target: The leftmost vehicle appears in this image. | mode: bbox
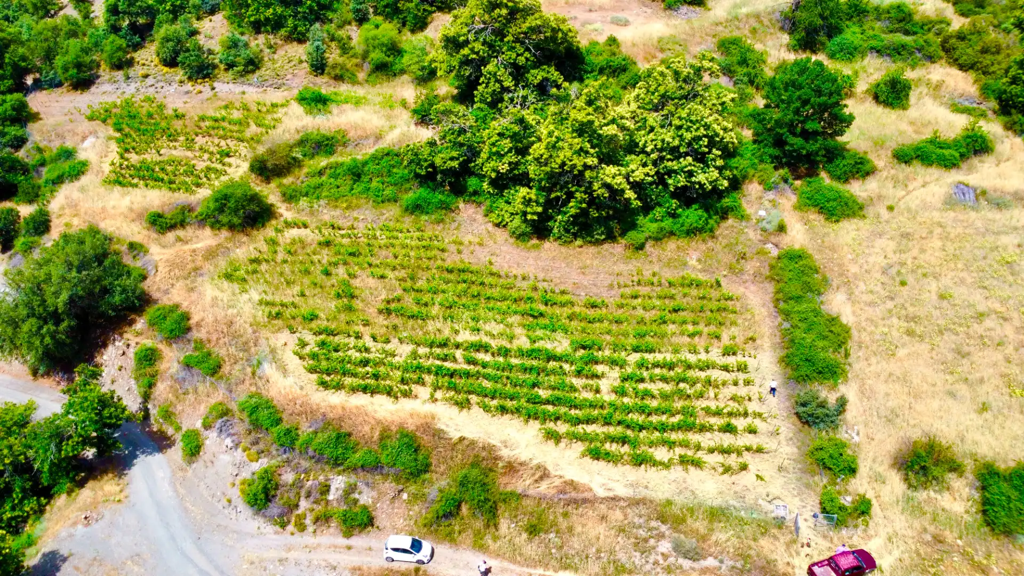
[384,533,433,564]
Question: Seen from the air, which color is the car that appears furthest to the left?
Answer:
white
